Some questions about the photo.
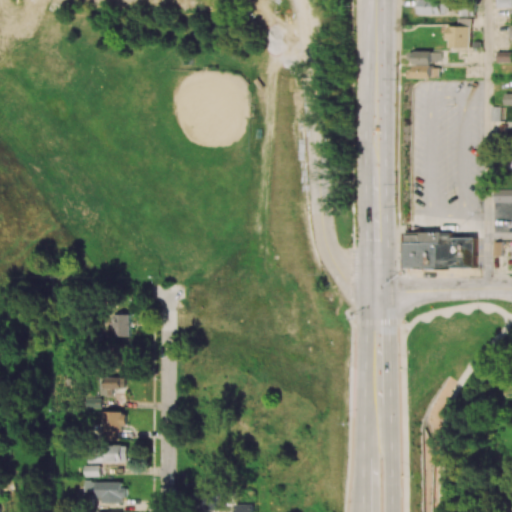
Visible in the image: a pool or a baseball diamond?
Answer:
baseball diamond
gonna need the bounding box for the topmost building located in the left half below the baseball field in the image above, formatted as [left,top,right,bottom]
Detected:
[110,314,129,338]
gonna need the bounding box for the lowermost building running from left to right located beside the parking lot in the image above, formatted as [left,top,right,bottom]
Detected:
[402,232,478,268]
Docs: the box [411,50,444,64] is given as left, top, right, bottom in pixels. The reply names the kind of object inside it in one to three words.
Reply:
house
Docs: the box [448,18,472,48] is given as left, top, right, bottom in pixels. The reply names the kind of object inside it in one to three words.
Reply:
building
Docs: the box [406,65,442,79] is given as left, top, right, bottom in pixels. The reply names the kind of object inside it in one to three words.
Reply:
house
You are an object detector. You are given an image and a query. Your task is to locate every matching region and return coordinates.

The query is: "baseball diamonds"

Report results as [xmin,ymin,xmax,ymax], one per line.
[116,68,257,205]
